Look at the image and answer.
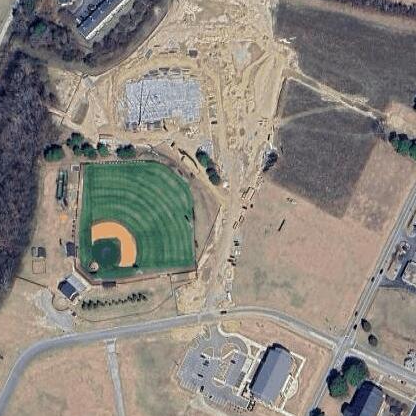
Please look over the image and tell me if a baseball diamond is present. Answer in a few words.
Yes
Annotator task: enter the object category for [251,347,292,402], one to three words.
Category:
building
